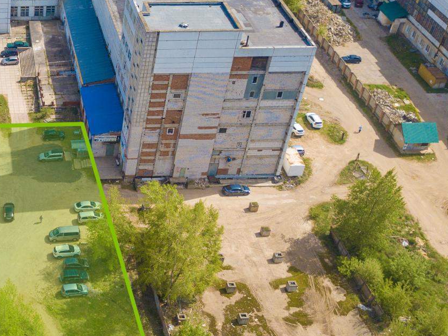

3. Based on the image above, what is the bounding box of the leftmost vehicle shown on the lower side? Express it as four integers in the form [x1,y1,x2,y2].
[2,203,16,223]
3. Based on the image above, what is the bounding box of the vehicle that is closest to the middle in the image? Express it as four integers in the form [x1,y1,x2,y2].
[220,184,251,197]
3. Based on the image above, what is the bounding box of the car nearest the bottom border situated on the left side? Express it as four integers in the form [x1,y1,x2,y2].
[60,283,89,298]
